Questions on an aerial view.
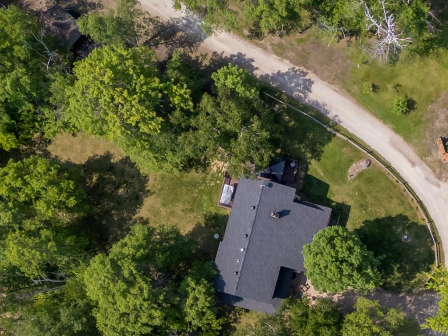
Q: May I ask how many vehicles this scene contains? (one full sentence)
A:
Not a single vehicle can be seen.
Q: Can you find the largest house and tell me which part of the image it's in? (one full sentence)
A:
Look in the bottom portion of the view to spot the largest house.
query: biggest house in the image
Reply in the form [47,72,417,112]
[204,178,336,314]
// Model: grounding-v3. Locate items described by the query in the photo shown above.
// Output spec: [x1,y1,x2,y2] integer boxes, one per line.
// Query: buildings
[42,3,88,53]
[204,178,336,314]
